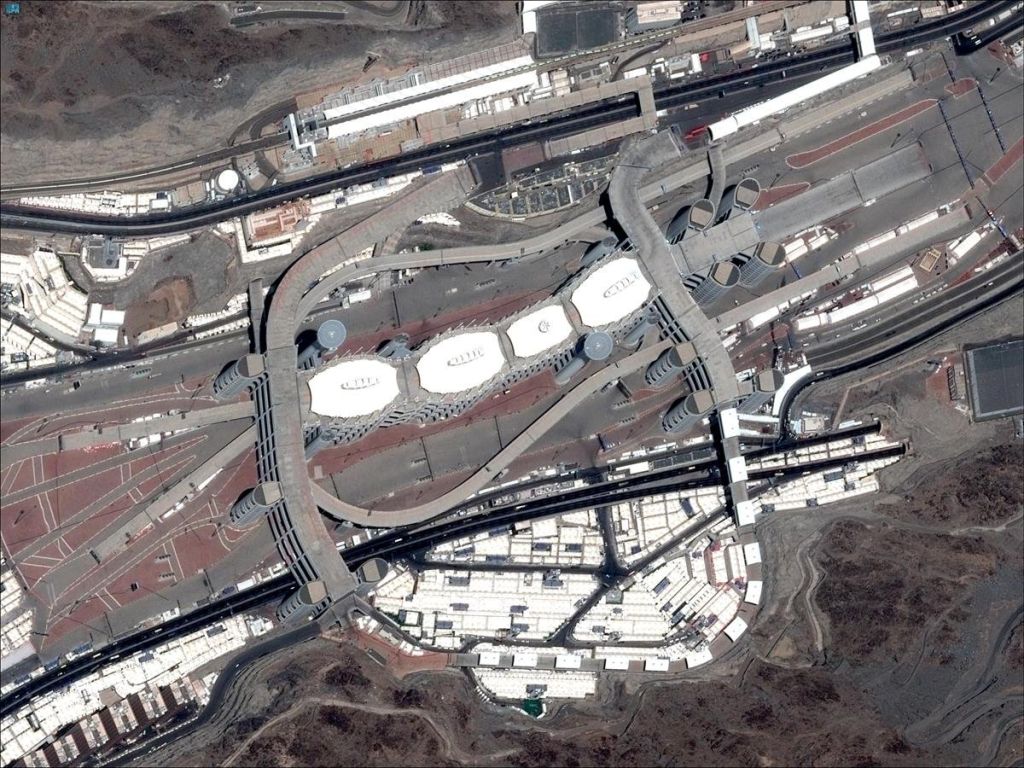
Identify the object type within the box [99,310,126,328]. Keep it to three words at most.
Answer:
building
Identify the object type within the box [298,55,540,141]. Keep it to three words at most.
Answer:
train station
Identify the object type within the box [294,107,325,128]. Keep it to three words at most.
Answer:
building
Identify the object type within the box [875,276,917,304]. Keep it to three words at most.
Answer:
shed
